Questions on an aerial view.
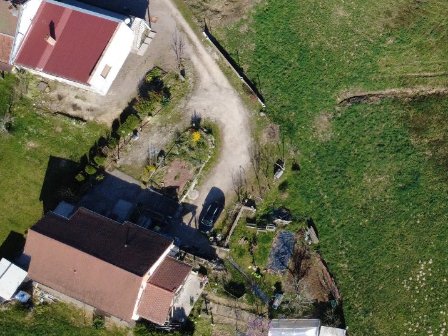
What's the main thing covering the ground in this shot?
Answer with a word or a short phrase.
grass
